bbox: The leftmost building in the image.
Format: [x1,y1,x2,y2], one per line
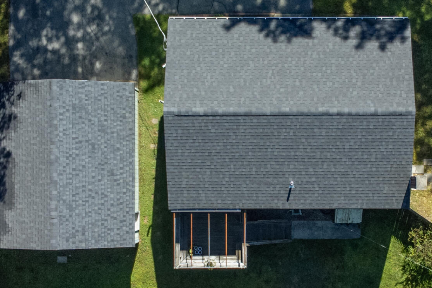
[0,79,141,249]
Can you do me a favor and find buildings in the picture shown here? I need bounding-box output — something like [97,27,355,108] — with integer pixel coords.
[0,79,141,249]
[159,14,427,214]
